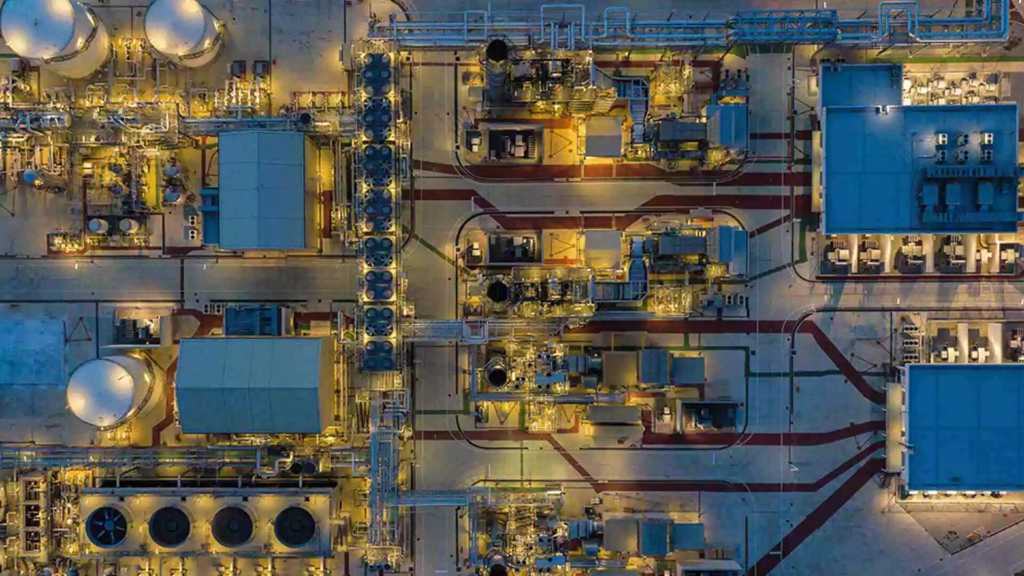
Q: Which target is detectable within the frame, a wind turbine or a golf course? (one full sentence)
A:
I can see a wind turbine in this picture.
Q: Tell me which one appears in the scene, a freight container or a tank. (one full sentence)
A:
The image shows a tank.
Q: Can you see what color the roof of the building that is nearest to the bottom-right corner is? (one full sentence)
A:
The color of the roof on the building that is nearest to the bottom-right corner is blue.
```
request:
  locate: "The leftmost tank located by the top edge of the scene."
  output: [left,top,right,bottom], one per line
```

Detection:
[0,0,110,77]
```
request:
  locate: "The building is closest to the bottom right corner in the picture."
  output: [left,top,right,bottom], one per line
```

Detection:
[876,360,1024,497]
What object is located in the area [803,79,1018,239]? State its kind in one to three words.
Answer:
building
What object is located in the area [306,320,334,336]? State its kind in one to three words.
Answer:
shed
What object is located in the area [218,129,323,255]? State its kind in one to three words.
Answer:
building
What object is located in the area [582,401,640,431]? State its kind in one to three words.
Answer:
shed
